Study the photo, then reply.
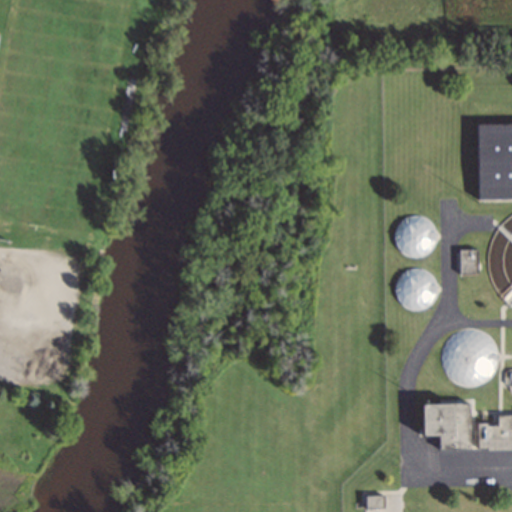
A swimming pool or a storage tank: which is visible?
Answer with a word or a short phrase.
storage tank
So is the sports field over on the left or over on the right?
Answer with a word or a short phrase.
left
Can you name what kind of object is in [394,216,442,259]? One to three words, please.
storage tank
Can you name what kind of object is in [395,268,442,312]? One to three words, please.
storage tank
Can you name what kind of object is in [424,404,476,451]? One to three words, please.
building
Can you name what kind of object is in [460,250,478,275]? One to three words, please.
building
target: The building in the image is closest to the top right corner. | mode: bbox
[480,124,512,204]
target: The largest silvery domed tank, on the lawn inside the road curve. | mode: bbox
[440,328,500,388]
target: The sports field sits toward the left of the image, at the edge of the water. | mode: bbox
[0,0,129,232]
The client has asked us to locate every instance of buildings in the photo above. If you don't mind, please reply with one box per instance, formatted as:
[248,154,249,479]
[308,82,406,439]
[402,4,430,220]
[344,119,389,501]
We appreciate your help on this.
[460,250,478,275]
[479,416,512,450]
[472,421,478,447]
[480,124,512,204]
[424,404,476,451]
[367,496,385,508]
